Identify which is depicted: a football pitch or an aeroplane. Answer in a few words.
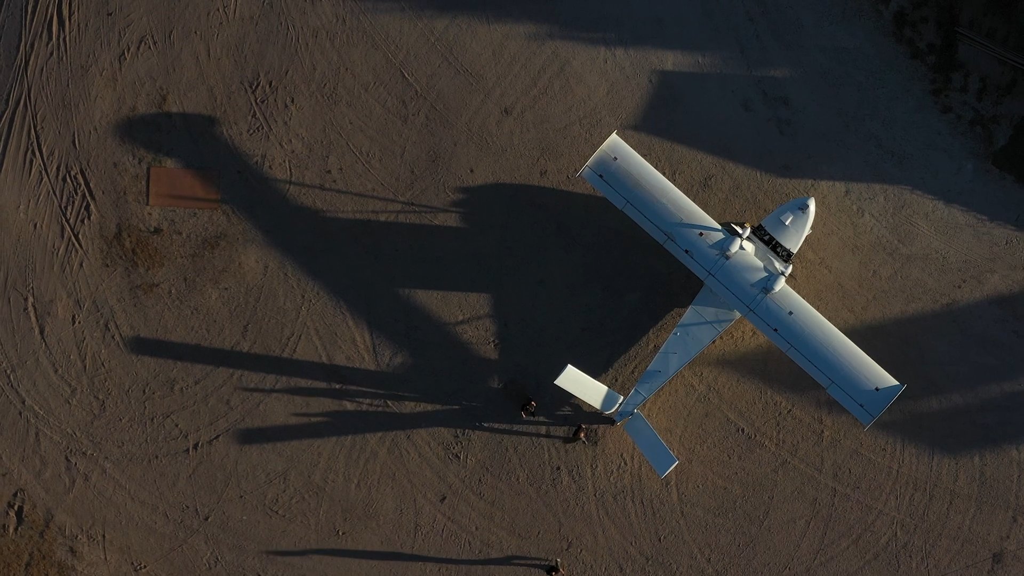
aeroplane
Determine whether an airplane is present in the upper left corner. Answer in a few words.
No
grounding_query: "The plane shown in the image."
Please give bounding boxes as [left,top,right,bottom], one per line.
[555,129,911,478]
